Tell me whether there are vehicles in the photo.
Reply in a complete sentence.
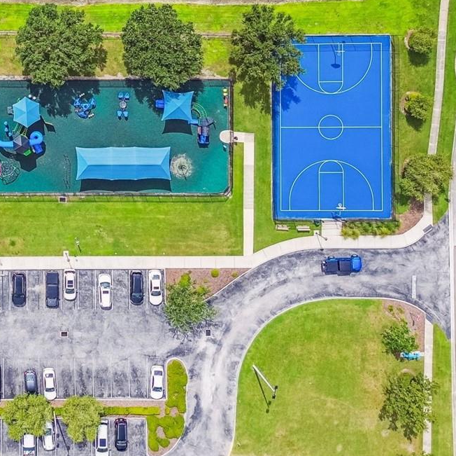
Yes, I can see a vehicle in this picture.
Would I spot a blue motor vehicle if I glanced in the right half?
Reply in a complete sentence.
Yes, the scene does show a blue motor vehicle in the right half.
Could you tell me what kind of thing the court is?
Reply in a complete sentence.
The court can be classified as a basketball court.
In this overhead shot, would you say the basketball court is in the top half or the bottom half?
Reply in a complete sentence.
Seen from above, the basketball court lies in the top half of the view.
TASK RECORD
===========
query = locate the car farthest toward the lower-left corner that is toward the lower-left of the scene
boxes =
[22,436,37,456]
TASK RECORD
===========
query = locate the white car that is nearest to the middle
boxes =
[149,269,164,303]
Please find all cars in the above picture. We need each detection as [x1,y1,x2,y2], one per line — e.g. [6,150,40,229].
[97,274,113,308]
[150,365,165,397]
[11,272,26,306]
[114,418,129,449]
[95,421,110,456]
[43,367,57,399]
[62,269,78,300]
[42,419,57,449]
[149,269,164,303]
[129,271,145,304]
[23,369,38,398]
[22,436,37,456]
[320,256,360,273]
